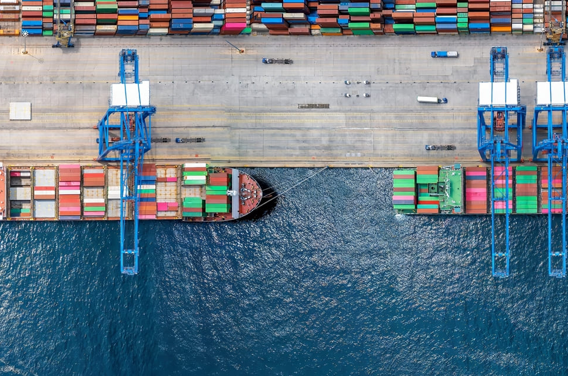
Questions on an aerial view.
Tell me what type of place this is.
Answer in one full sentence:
What you see here is a port.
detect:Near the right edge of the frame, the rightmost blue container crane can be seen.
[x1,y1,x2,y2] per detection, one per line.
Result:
[516,49,568,282]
